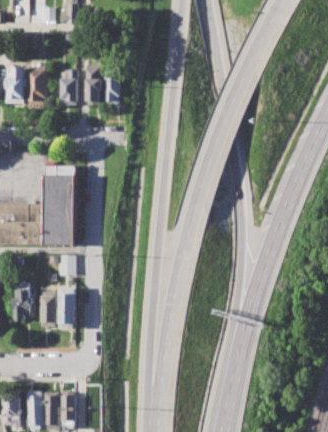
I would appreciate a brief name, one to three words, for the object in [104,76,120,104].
house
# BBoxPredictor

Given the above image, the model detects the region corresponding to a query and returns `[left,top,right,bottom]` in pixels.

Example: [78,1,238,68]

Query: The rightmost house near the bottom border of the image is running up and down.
[62,394,76,429]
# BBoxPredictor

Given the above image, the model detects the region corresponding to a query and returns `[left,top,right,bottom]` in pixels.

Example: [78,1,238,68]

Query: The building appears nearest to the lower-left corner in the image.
[4,397,22,432]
